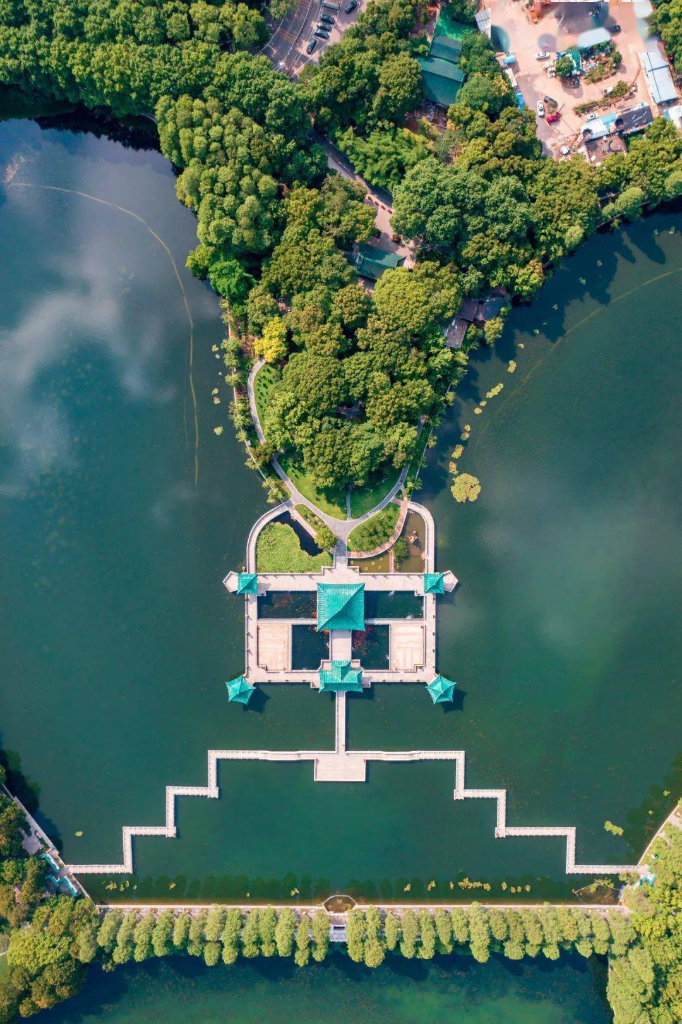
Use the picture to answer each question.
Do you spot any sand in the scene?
No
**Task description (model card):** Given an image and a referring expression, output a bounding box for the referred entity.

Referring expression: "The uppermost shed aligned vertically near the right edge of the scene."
[630,0,678,104]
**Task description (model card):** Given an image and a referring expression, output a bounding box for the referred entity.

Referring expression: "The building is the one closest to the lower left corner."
[224,674,257,705]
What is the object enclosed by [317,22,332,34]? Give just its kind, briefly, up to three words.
vehicle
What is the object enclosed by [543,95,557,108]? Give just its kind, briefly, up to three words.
vehicle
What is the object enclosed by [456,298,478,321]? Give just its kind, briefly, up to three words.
house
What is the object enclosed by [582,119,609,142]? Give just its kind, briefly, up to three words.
shed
